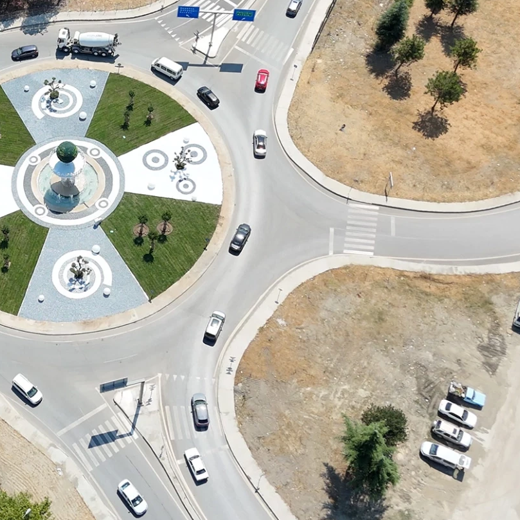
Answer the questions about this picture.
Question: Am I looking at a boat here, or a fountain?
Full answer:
The image shows a fountain.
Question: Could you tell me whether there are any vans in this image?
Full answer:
Yes, looking at the shot, I can spot a van.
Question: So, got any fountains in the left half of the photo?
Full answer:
Yes, you'll find a fountain in the left half of the photo.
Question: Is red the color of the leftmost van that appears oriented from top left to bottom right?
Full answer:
No, the leftmost van that appears oriented from top left to bottom right is white.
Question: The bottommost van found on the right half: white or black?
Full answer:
The bottommost van found on the right half is white.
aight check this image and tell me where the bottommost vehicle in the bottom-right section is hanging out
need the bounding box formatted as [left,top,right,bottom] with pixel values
[415,439,484,474]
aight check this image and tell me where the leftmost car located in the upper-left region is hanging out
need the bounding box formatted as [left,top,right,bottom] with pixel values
[10,44,39,61]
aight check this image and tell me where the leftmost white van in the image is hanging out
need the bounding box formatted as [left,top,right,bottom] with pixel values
[8,371,46,408]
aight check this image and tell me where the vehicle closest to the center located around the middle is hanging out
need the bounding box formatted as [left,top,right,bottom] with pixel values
[228,223,251,255]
